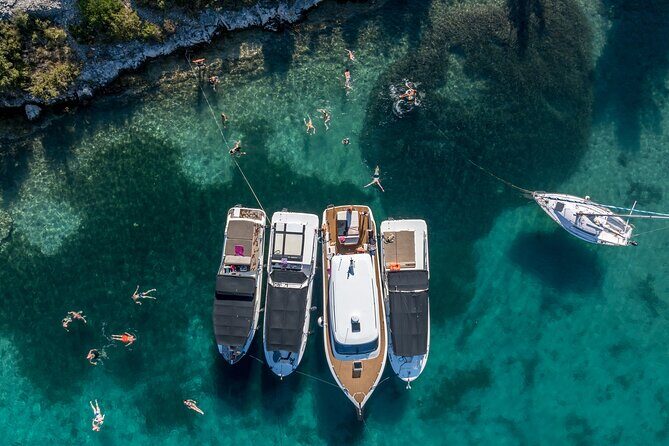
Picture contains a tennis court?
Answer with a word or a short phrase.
No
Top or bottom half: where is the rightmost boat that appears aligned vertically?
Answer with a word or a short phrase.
bottom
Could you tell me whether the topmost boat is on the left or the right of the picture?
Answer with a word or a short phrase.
right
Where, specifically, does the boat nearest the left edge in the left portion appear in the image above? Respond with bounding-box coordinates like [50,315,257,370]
[214,204,267,366]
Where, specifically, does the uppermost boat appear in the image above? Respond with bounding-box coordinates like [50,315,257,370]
[535,195,669,247]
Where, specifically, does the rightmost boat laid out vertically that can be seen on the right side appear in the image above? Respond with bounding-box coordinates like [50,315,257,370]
[381,215,429,392]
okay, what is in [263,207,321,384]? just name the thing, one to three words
boat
